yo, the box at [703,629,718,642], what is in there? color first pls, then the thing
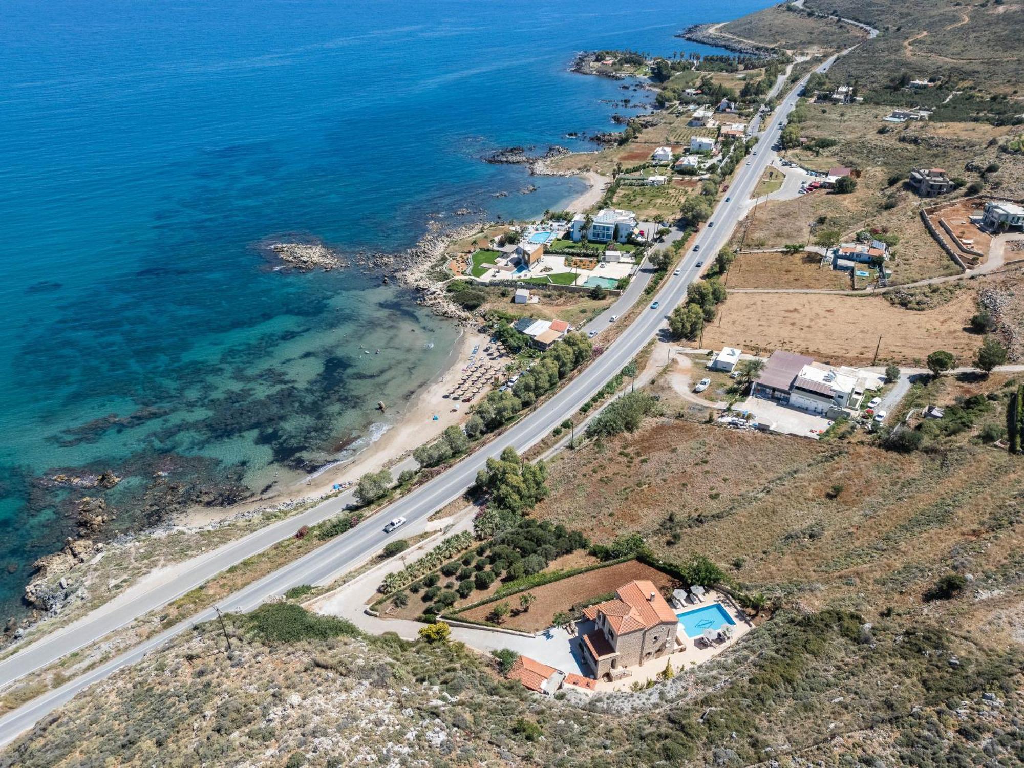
white umbrella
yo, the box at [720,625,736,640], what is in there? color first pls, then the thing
white umbrella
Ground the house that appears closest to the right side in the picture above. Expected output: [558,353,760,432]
[962,205,1024,238]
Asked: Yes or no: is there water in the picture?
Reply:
Yes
